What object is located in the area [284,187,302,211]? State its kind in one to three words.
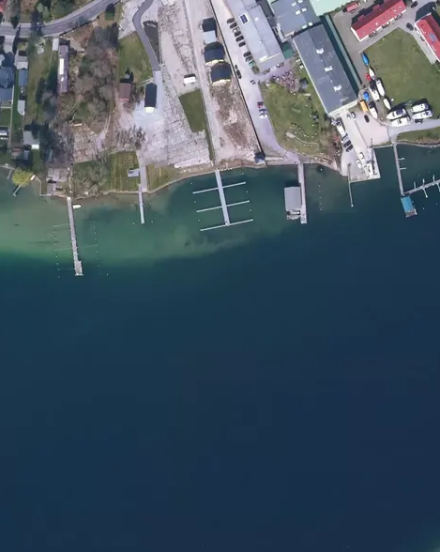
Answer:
building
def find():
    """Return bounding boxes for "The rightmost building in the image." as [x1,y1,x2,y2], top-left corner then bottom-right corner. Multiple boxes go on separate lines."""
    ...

[415,14,440,59]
